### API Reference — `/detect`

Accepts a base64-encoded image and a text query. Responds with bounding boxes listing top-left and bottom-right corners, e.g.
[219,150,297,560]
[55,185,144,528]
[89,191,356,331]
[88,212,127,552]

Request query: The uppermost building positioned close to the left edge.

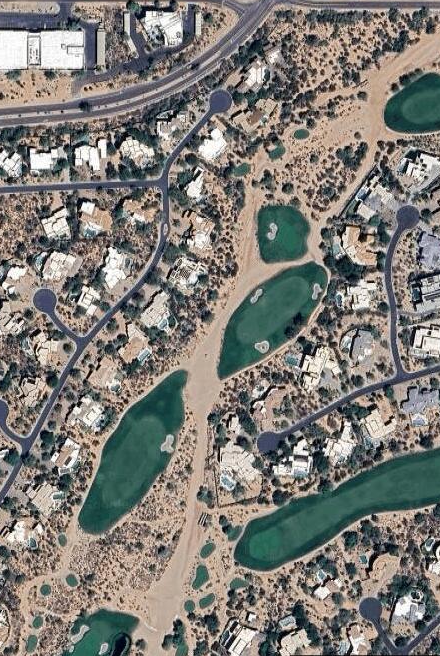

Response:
[0,29,84,69]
